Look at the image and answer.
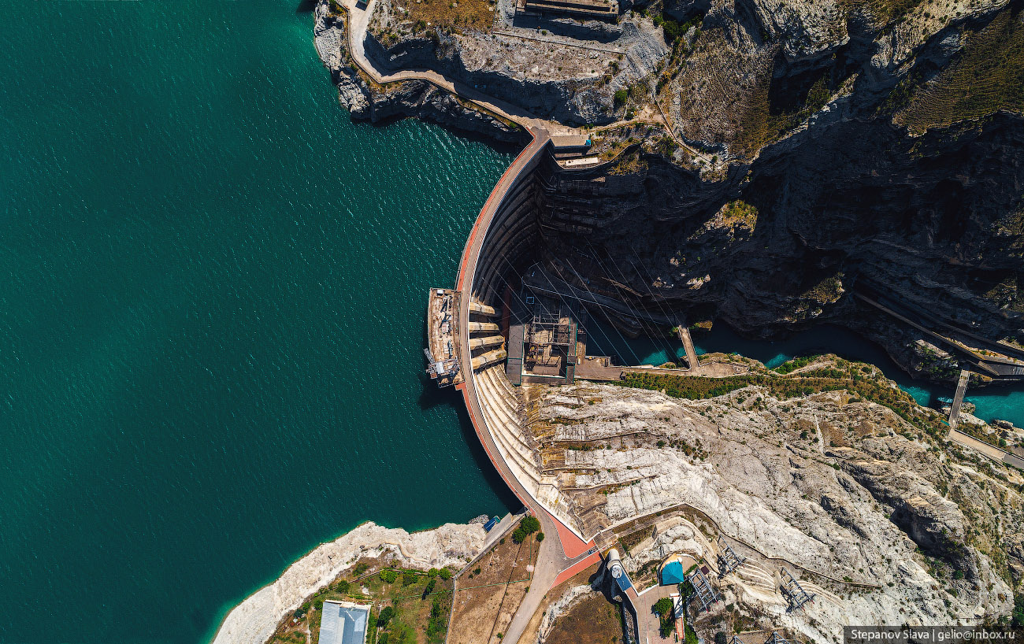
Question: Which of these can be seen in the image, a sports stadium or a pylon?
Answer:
pylon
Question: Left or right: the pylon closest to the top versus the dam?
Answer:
right of it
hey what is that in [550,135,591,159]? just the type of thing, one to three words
building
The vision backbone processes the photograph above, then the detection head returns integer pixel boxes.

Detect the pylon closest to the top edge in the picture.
[708,530,745,575]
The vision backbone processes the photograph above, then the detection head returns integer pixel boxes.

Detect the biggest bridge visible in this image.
[942,369,969,430]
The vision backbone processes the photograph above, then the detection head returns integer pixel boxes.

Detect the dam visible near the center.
[453,134,587,545]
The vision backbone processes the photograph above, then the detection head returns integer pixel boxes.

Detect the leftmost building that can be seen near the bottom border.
[319,598,373,644]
